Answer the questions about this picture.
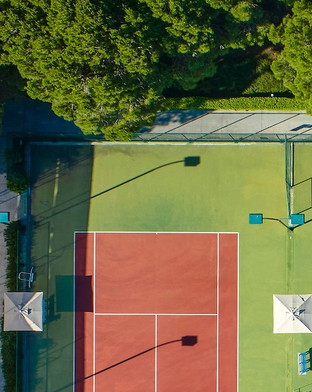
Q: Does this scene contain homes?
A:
No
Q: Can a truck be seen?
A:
No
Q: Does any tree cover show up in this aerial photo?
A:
Yes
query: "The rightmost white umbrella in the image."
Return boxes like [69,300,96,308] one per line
[275,295,312,333]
